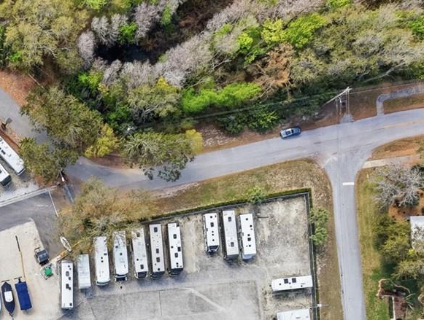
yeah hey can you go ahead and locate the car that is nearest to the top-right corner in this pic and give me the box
[278,126,300,139]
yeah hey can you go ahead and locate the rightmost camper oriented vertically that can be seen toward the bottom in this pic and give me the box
[236,213,255,262]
